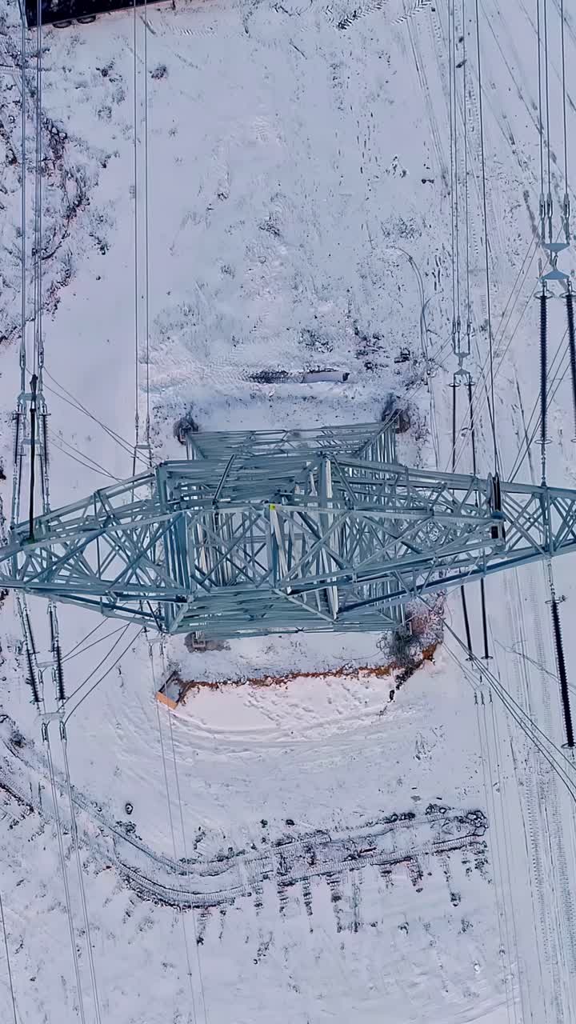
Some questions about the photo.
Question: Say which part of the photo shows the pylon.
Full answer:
The pylon appears toward the center of the photo.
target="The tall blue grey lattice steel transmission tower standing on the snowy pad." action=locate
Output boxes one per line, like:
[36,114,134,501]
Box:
[0,416,576,639]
